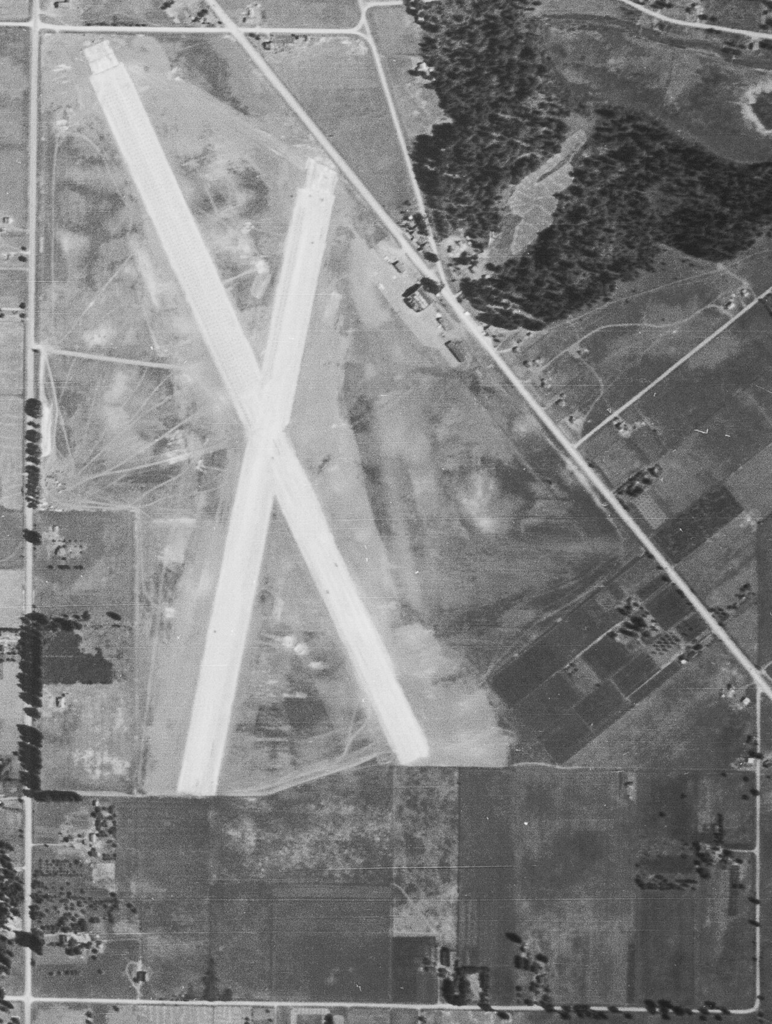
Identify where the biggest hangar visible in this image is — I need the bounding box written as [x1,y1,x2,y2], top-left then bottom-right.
[406,284,434,312]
